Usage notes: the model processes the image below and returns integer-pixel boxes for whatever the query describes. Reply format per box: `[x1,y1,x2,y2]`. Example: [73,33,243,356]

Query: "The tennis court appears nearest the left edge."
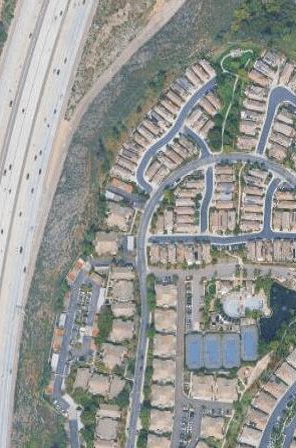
[186,333,202,368]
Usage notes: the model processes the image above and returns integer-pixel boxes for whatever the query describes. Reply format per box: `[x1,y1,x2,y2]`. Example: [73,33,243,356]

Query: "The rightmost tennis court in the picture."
[240,326,257,361]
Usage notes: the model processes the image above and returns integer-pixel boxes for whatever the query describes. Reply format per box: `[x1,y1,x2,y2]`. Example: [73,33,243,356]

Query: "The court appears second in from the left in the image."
[203,333,221,368]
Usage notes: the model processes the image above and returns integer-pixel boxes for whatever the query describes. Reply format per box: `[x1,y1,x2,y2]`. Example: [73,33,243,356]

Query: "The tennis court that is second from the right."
[223,333,239,368]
